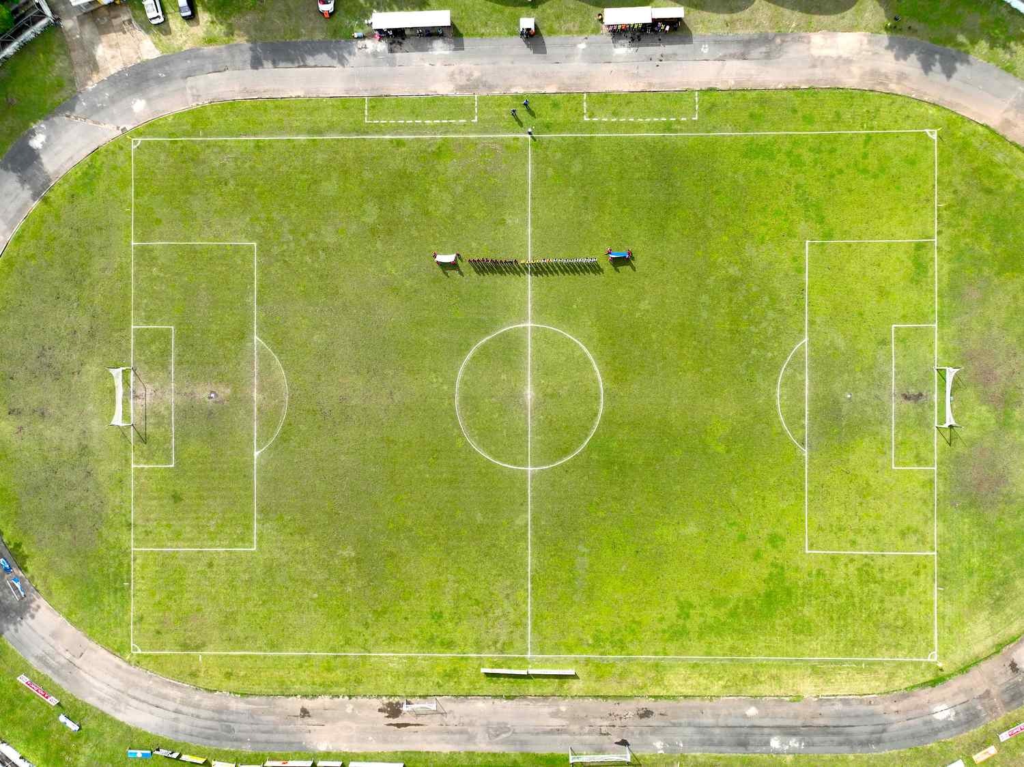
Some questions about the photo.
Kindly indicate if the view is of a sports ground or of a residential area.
sports ground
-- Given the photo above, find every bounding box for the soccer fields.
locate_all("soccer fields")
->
[123,94,945,667]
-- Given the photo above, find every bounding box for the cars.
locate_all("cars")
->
[176,0,194,20]
[138,0,163,27]
[317,0,334,13]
